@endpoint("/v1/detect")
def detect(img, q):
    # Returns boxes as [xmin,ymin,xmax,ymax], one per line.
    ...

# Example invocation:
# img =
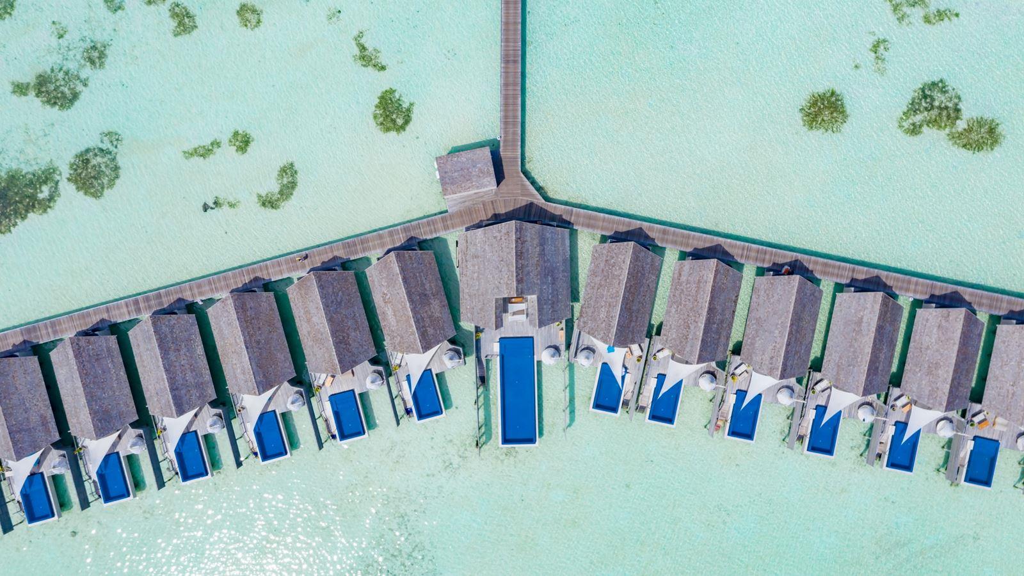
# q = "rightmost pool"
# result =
[955,436,999,490]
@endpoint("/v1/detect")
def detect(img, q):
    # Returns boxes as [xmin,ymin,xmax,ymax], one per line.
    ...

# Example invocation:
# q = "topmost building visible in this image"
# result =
[433,146,497,199]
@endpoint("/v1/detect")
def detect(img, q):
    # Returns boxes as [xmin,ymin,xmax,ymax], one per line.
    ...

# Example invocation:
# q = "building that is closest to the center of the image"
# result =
[457,220,571,381]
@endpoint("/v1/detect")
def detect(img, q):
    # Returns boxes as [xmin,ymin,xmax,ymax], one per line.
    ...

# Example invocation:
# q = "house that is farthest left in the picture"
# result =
[0,344,82,515]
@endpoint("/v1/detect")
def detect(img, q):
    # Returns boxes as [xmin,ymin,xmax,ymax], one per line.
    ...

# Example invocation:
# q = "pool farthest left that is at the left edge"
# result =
[17,471,64,526]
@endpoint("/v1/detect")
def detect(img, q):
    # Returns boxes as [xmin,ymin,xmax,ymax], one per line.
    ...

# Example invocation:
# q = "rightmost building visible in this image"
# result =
[957,316,1024,468]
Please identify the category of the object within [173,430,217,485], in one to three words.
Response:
swimming pool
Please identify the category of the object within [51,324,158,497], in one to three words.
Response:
house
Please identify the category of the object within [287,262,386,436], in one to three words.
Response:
house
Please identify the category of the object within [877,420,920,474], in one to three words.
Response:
swimming pool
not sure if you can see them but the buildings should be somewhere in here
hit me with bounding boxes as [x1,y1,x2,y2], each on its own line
[876,300,984,461]
[457,220,571,381]
[957,316,1024,468]
[128,303,229,477]
[287,262,386,436]
[0,344,82,515]
[637,254,743,412]
[51,324,158,497]
[366,242,465,416]
[572,236,662,408]
[207,282,308,456]
[716,269,823,429]
[433,146,497,199]
[796,285,904,446]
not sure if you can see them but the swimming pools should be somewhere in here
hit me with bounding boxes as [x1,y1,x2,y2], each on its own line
[17,471,64,526]
[955,436,999,490]
[877,420,920,474]
[403,369,448,424]
[326,389,372,444]
[644,374,684,428]
[800,405,842,459]
[247,409,294,464]
[96,451,141,506]
[173,430,217,485]
[721,389,763,443]
[591,362,634,416]
[494,336,538,447]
